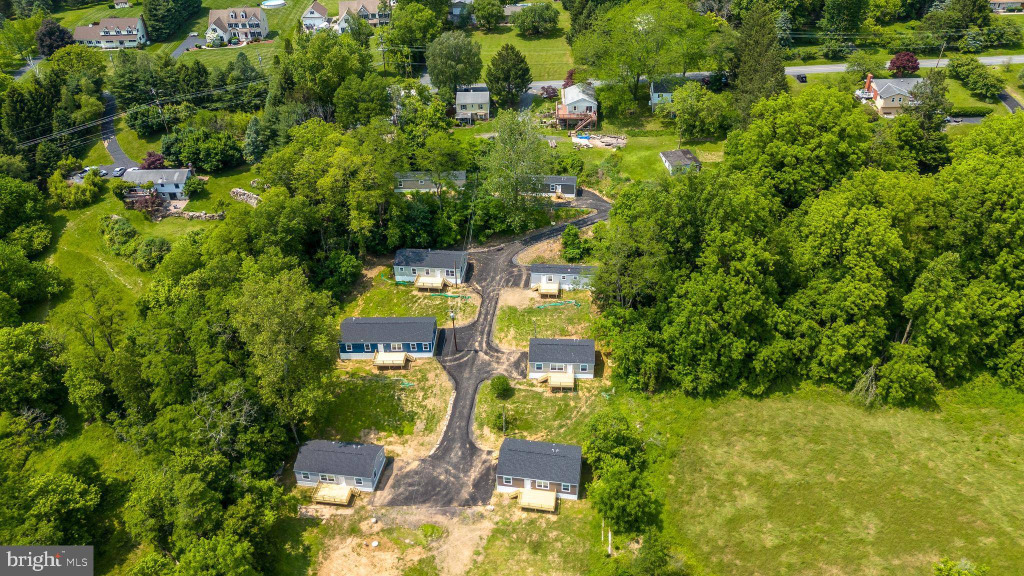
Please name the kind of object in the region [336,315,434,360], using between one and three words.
house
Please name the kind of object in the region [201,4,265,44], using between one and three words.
house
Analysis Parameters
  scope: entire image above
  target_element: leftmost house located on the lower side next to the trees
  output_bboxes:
[293,432,384,492]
